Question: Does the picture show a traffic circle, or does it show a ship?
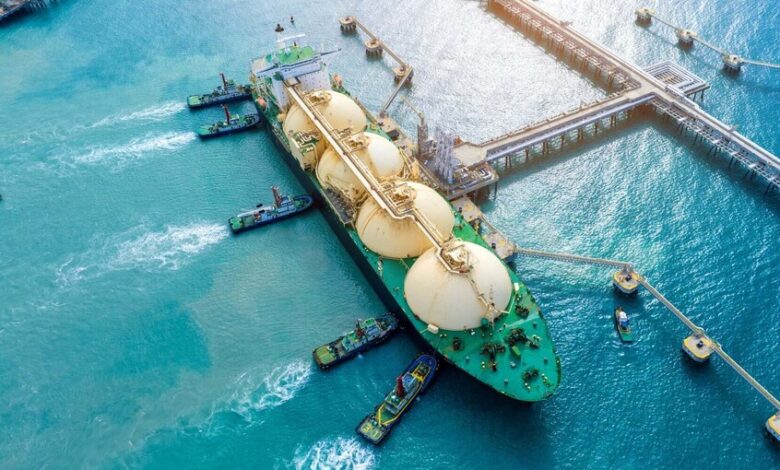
ship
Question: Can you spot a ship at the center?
Yes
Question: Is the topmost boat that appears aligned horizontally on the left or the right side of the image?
left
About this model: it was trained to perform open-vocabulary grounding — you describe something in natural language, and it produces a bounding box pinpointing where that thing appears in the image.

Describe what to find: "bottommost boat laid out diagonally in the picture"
[353,356,440,447]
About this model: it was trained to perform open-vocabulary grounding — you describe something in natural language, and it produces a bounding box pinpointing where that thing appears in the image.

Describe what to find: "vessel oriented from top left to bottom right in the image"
[246,30,560,395]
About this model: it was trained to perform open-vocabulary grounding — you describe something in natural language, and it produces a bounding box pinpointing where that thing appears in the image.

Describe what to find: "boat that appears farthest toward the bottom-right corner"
[617,309,631,343]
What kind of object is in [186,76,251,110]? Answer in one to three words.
boat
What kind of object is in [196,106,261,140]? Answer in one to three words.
boat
